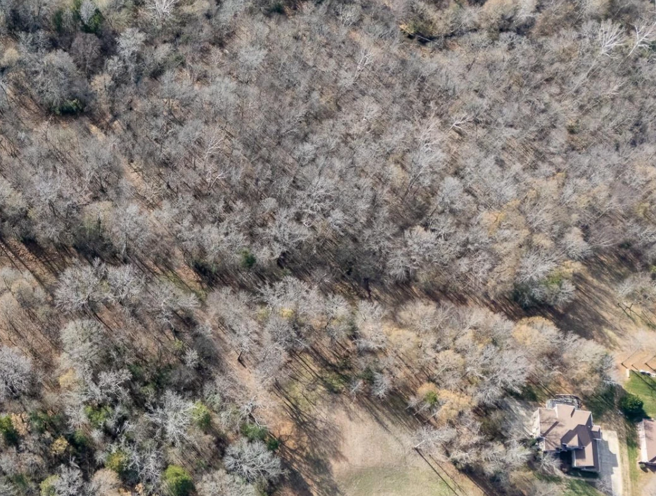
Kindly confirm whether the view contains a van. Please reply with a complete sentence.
No, the frame has no van in it.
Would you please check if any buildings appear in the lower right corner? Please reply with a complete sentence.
Yes, looking in the lower right corner, one can make out a building.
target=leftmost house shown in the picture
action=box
[532,404,601,475]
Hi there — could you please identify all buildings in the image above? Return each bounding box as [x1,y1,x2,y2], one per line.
[637,417,656,465]
[532,404,601,475]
